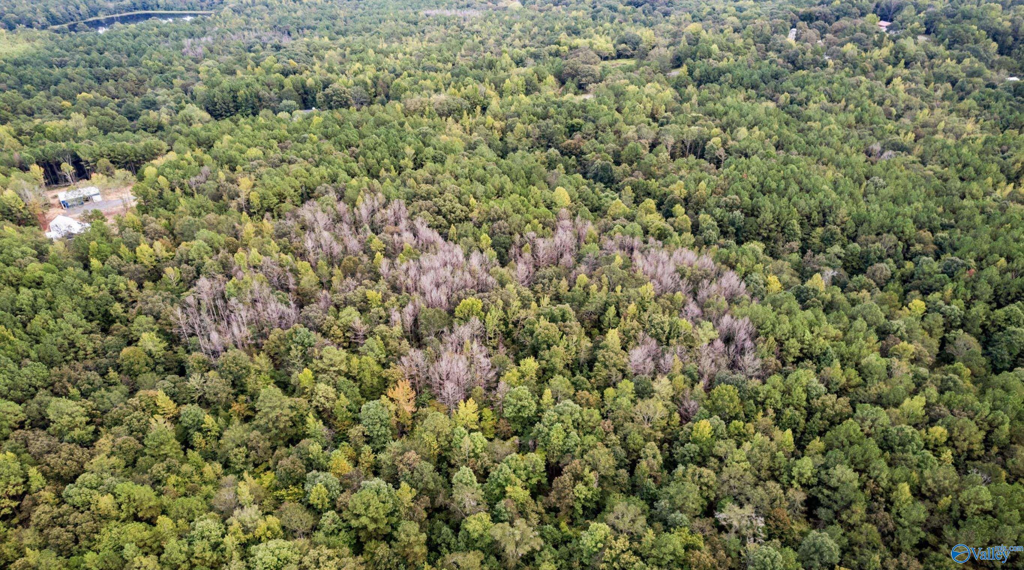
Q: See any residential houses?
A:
Yes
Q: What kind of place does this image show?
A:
forest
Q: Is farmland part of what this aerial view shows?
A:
No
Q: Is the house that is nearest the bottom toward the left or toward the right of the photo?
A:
left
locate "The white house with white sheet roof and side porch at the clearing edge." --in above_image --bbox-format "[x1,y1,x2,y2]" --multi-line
[44,216,90,244]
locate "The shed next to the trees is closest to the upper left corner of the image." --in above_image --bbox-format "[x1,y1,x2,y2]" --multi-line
[59,183,103,209]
